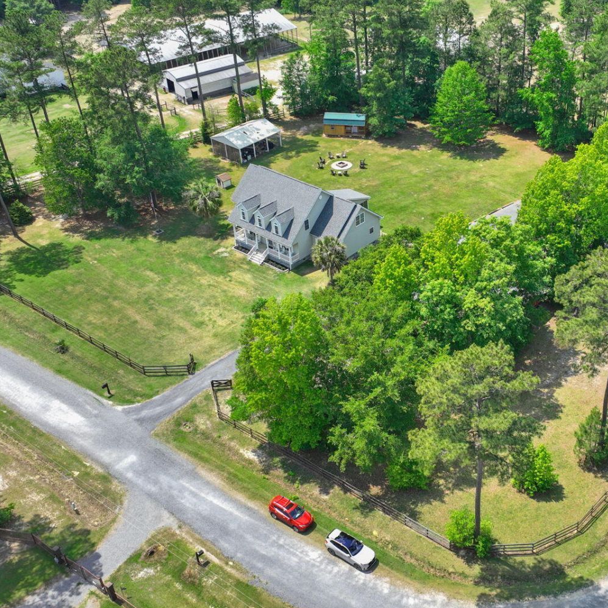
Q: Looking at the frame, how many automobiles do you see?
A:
2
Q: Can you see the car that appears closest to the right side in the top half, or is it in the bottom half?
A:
bottom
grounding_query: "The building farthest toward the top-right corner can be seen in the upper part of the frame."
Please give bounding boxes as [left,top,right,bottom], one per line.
[322,115,367,137]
